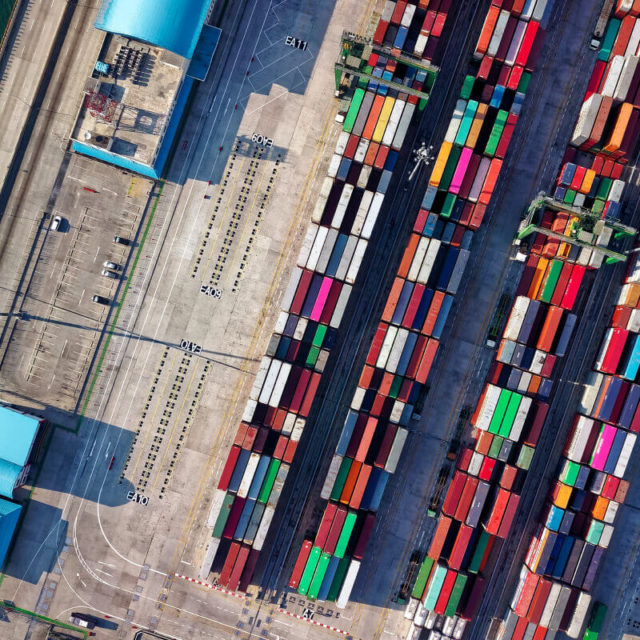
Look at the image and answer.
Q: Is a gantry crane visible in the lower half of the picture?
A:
No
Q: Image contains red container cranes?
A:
No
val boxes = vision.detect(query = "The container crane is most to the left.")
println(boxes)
[329,26,445,127]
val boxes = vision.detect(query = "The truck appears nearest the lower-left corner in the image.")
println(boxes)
[68,612,101,634]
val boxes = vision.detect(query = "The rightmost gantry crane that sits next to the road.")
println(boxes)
[512,186,640,272]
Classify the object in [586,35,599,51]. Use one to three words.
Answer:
vehicle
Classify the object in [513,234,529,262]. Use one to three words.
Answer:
vehicle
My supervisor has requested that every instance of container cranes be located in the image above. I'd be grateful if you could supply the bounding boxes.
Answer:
[512,186,640,272]
[329,26,445,127]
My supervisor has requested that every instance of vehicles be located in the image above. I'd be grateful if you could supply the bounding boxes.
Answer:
[90,294,106,305]
[425,464,451,517]
[412,369,436,421]
[68,612,101,634]
[101,268,118,278]
[335,113,346,125]
[481,296,506,349]
[51,216,62,232]
[586,35,599,51]
[112,235,128,245]
[513,234,529,262]
[103,261,119,271]
[445,408,471,460]
[396,551,421,604]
